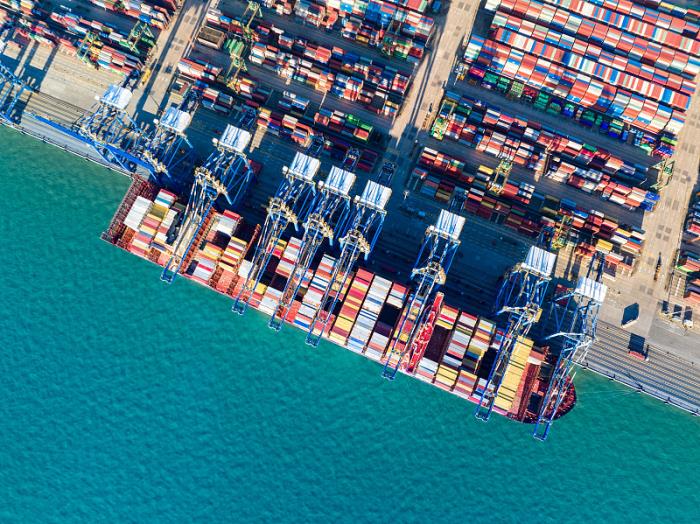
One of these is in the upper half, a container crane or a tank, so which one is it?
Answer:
container crane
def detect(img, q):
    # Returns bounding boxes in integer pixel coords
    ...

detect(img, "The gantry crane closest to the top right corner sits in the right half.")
[649,154,686,196]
